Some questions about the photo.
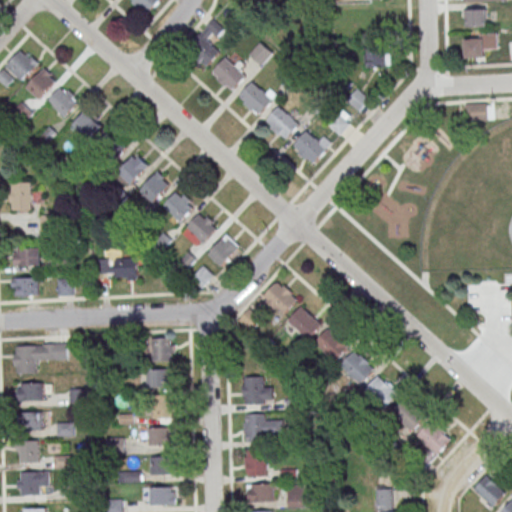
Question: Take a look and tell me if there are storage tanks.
No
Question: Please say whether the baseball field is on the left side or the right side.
right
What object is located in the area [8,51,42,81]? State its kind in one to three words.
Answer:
house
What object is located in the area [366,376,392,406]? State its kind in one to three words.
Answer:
house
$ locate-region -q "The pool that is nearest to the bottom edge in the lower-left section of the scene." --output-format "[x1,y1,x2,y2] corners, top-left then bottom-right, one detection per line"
[126,456,140,470]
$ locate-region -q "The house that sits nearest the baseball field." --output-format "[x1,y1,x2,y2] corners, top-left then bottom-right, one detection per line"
[466,102,496,122]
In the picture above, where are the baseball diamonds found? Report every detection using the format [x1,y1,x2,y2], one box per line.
[420,116,512,271]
